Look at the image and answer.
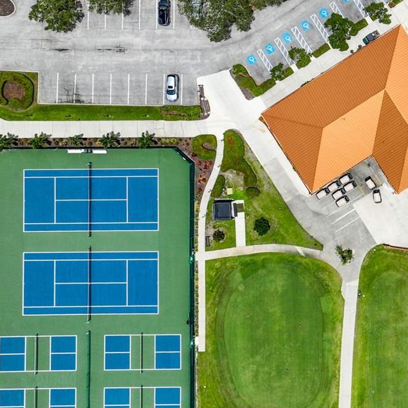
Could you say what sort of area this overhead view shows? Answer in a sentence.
The area seen from above is a sports ground.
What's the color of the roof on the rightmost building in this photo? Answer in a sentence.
The color of the roof on the rightmost building is orange.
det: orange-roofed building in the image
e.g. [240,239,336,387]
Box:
[261,24,408,194]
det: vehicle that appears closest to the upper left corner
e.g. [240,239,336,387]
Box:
[157,0,171,26]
